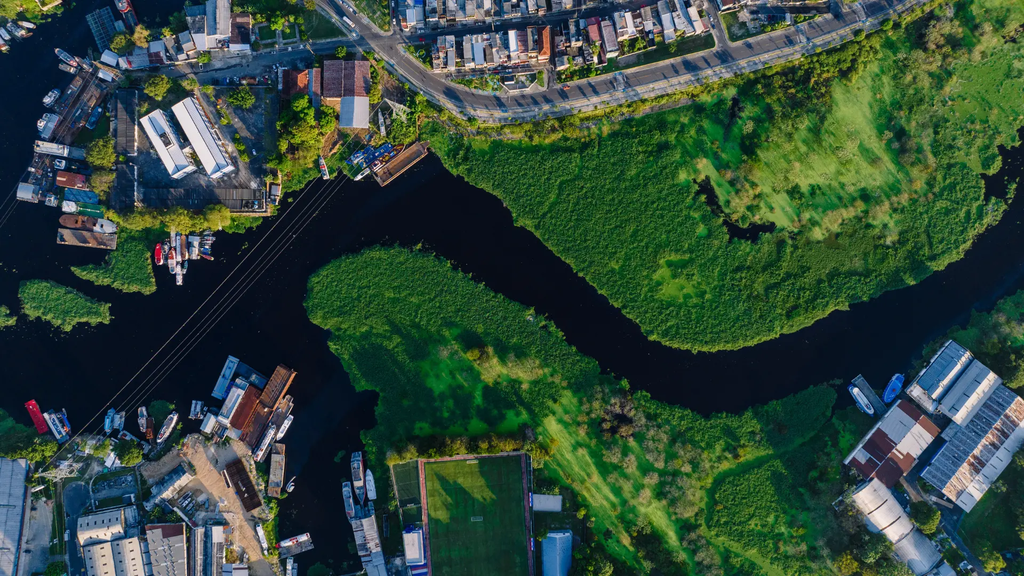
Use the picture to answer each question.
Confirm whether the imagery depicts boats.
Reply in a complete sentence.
Yes, you can see a boat in this photo.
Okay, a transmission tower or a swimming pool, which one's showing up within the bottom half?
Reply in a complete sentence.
It is a transmission tower that can be seen within the bottom half.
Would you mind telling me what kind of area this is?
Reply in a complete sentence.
It's a residential area.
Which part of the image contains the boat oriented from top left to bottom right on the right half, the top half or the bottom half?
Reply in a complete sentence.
The boat oriented from top left to bottom right on the right half is in the bottom half of the image.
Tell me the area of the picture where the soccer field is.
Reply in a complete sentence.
The soccer field is in the bottom part of the image.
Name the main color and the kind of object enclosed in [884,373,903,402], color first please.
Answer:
blue boat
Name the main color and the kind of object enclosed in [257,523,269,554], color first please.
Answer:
white boat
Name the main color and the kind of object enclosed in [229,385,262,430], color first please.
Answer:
red ship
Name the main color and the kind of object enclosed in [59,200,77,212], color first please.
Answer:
white ship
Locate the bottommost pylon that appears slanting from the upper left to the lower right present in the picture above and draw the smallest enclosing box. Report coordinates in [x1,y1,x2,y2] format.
[385,92,407,118]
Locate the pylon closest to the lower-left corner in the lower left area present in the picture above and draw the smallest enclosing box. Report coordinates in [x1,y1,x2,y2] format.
[34,457,83,486]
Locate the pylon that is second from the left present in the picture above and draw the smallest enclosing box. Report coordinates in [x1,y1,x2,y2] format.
[86,56,127,82]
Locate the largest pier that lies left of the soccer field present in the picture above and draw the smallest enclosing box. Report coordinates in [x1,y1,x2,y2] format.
[279,538,314,559]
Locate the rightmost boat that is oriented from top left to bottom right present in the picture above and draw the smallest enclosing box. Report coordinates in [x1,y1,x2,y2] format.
[848,384,874,419]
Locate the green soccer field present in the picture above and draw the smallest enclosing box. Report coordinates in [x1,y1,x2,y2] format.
[419,453,533,576]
